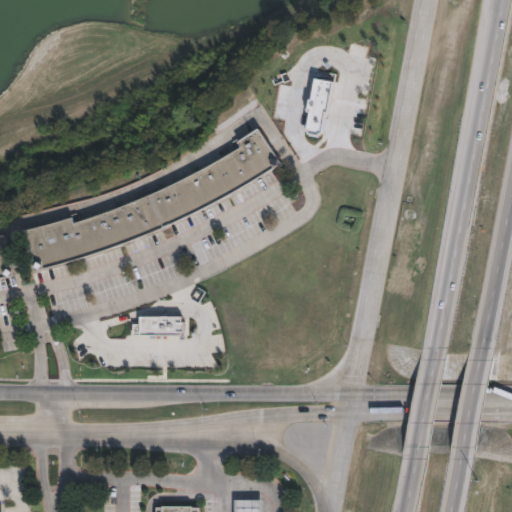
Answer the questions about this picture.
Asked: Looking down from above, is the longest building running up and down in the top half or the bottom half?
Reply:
top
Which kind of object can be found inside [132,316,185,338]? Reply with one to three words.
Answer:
building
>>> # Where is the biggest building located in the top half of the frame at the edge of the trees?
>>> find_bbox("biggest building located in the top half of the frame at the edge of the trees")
[26,128,282,268]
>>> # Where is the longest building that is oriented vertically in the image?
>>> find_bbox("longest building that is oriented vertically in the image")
[305,78,332,140]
